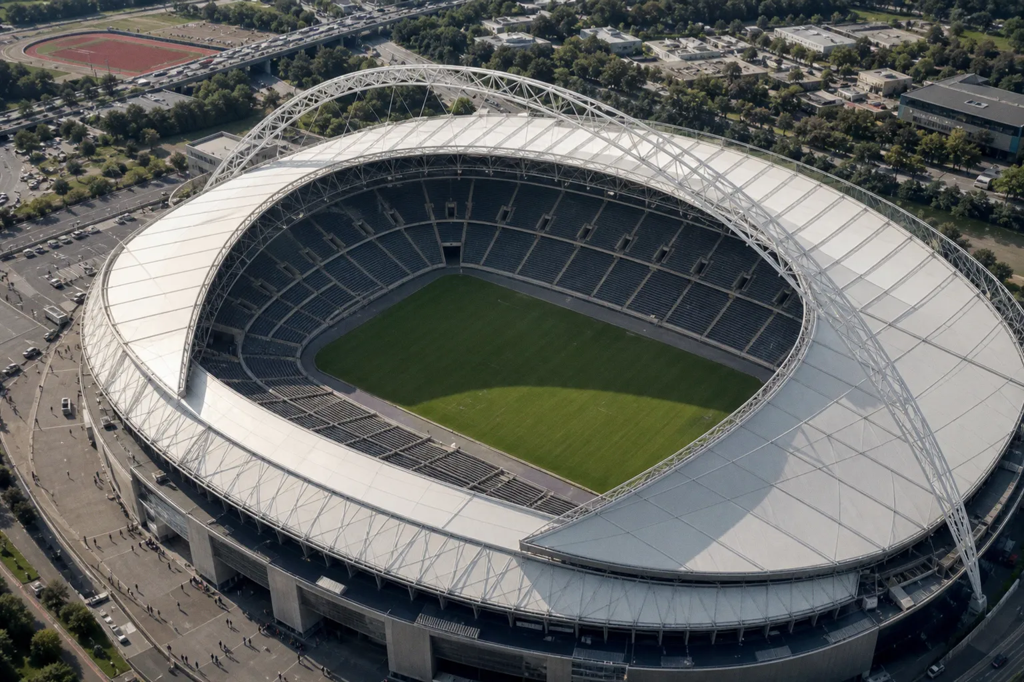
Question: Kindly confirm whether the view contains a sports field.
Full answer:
Yes, there is a sports field in the image.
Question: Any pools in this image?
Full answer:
No, the photo shows no pool.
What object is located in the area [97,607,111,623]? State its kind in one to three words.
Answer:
car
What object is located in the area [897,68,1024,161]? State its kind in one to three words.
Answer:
building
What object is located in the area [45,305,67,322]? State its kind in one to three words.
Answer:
vehicle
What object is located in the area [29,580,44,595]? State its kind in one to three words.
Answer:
car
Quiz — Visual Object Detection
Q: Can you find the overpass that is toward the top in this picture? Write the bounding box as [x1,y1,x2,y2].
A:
[0,0,517,143]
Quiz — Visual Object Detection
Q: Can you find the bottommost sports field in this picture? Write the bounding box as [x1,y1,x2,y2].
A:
[308,271,760,498]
